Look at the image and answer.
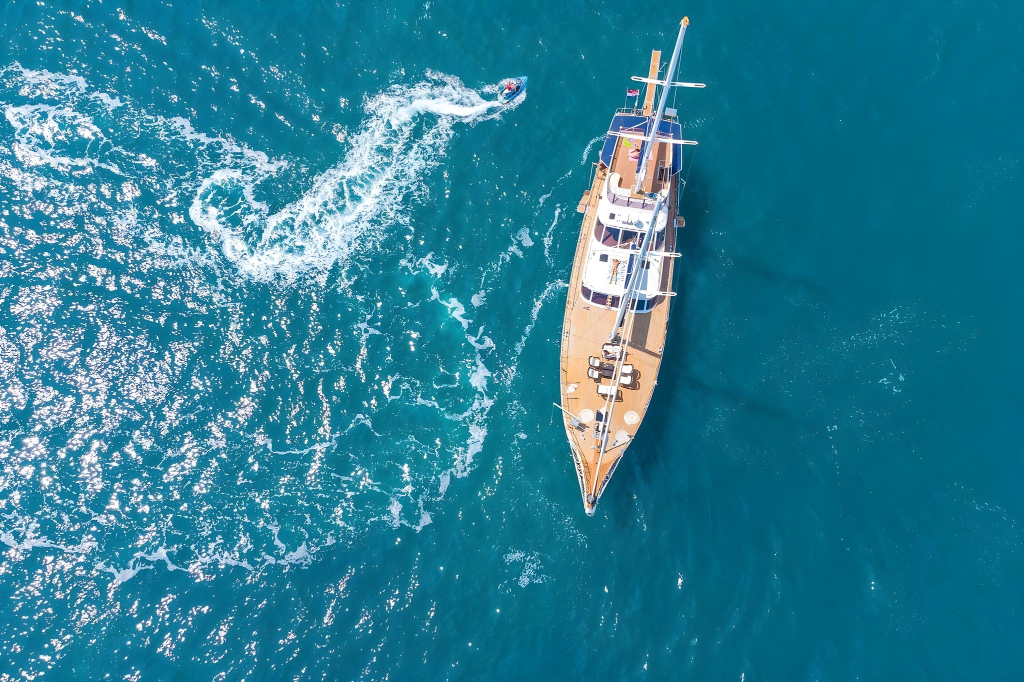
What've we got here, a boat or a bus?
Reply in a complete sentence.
The one in the frame is a boat.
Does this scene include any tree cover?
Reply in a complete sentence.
No, the picture contains no tree cover.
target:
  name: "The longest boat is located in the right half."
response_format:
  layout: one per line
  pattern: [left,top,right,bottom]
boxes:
[552,16,706,520]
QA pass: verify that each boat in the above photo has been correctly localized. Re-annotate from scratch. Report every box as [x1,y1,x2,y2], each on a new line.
[552,16,706,520]
[498,76,526,105]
